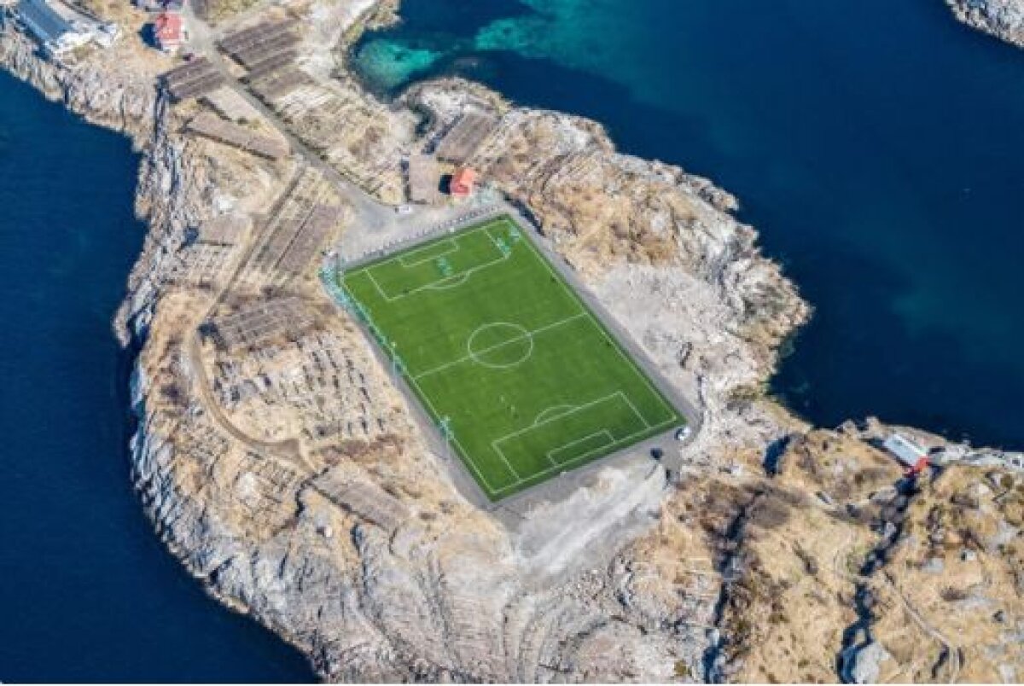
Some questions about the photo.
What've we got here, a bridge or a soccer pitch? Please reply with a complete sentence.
This aerial view contains a soccer pitch.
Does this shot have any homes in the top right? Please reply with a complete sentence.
No, there is no home in the top right.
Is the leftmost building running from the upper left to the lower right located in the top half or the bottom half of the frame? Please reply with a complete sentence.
The top half of the photo is where the leftmost building running from the upper left to the lower right is.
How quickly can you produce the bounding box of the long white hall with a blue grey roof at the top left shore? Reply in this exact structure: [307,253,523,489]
[9,0,75,53]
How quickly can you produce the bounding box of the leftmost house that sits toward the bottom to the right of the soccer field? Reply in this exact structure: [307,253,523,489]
[882,429,938,472]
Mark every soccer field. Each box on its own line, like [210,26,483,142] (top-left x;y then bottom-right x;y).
[335,215,687,503]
